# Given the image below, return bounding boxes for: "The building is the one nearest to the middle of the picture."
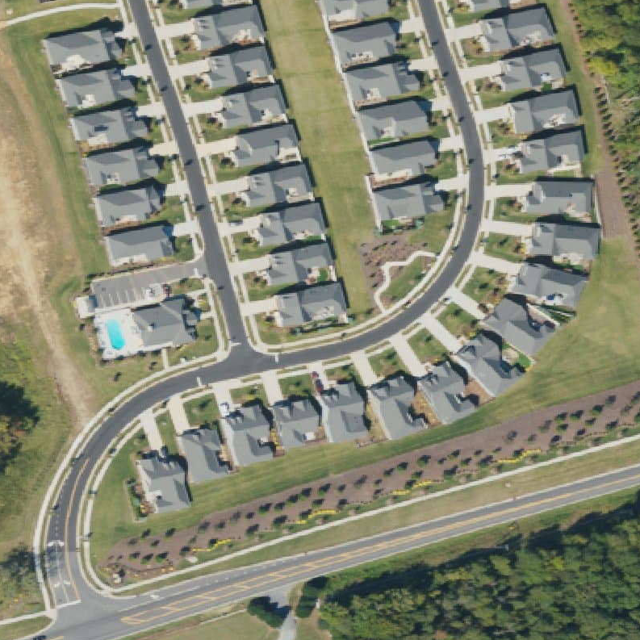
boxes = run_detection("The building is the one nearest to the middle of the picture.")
[273,284,346,326]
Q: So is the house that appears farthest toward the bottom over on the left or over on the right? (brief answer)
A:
left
